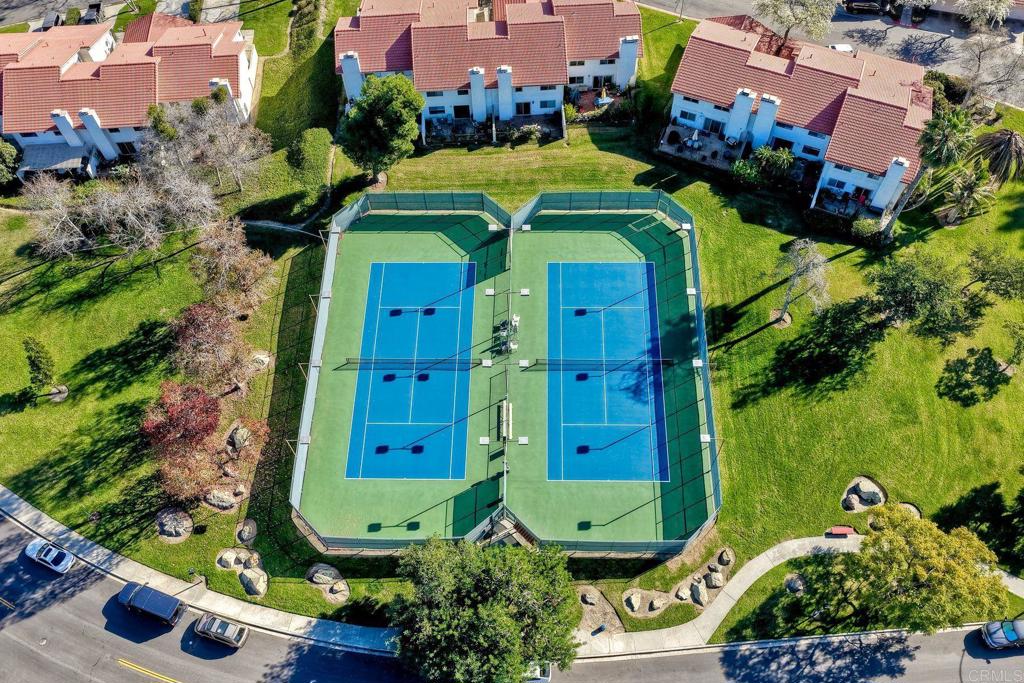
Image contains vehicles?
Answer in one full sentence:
Yes, there is a vehicle in the image.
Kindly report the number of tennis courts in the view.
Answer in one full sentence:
The number of tennis courts here is 2.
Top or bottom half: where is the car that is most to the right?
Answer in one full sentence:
Seen from above, the car that is most to the right lies in the bottom half of the view.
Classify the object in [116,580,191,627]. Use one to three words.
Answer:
truck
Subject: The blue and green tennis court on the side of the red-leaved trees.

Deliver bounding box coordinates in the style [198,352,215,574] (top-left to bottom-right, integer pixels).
[299,211,512,562]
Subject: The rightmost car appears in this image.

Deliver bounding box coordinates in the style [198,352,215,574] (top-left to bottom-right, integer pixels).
[981,618,1024,648]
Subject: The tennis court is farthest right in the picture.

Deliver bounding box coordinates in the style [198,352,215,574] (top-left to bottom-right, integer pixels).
[506,210,716,564]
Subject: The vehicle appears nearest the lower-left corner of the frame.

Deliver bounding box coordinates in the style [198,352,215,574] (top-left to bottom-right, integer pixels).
[24,539,80,575]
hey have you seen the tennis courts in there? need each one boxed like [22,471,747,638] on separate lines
[299,211,512,562]
[506,210,716,564]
